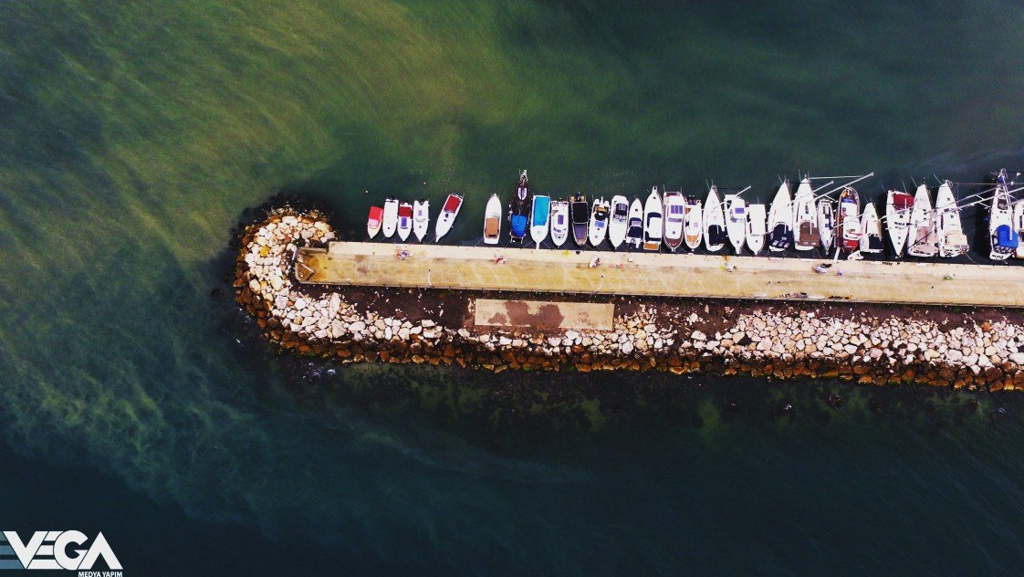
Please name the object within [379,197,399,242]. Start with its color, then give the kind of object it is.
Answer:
white boat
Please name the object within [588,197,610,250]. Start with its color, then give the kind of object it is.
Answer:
white boat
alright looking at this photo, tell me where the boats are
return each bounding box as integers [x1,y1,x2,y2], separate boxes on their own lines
[414,197,430,243]
[364,204,384,242]
[720,196,745,255]
[882,188,968,261]
[506,172,532,247]
[852,196,918,257]
[607,195,629,251]
[483,194,501,246]
[428,192,463,243]
[379,197,399,242]
[659,193,686,253]
[744,201,768,256]
[588,197,610,250]
[983,170,1024,264]
[395,201,413,243]
[523,193,551,248]
[571,196,589,249]
[1009,188,1024,261]
[765,175,833,257]
[792,172,872,258]
[829,186,858,262]
[701,181,752,255]
[627,198,643,248]
[813,196,860,257]
[550,199,569,249]
[682,195,706,254]
[642,183,662,253]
